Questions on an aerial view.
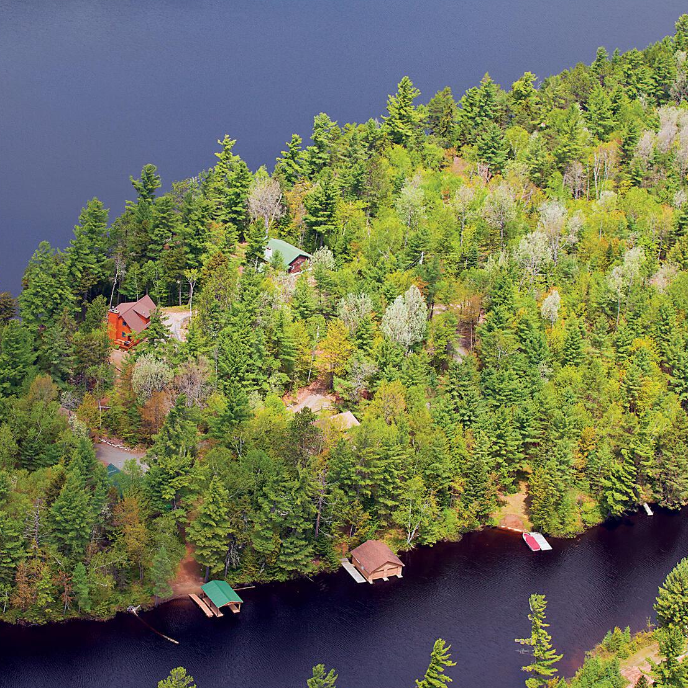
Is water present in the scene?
Yes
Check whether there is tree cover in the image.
Yes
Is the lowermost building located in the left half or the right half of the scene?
left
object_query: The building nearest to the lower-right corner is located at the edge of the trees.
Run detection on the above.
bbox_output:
[350,538,403,581]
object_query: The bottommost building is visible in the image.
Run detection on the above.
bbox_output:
[202,577,243,618]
